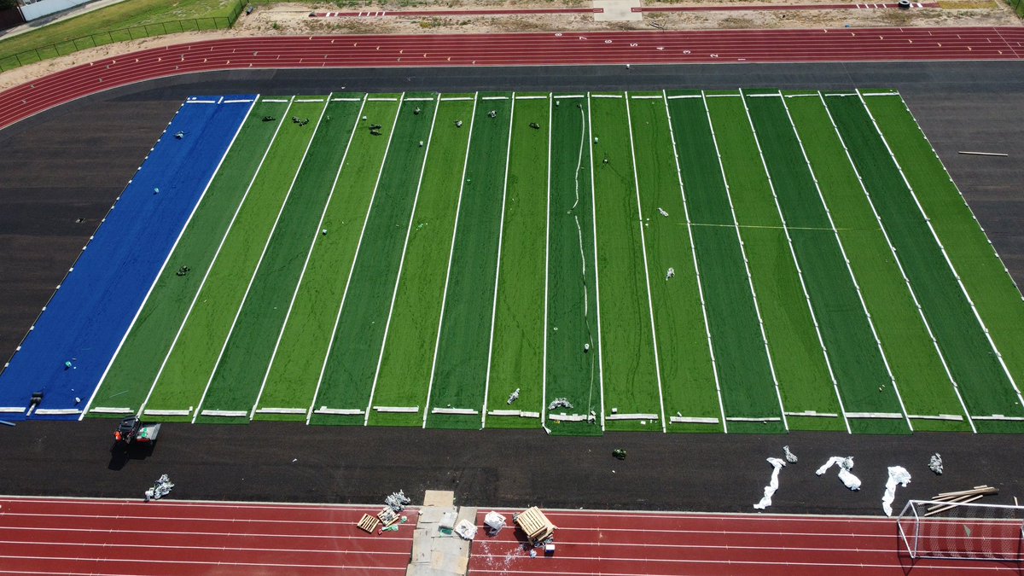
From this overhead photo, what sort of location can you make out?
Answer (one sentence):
This looks like a sports ground.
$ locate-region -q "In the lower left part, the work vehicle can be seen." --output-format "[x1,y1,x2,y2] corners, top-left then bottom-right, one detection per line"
[113,415,165,446]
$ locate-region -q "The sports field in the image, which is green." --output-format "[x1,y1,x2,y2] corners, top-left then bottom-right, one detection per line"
[0,87,1024,436]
